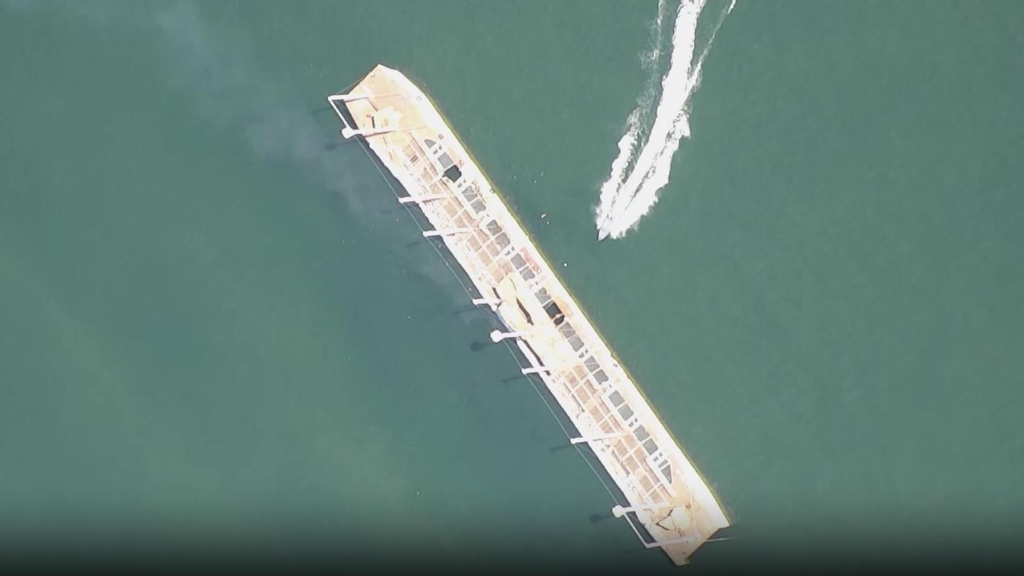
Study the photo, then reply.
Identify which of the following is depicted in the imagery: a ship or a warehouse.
ship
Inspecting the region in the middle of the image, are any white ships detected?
Yes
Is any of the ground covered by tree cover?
No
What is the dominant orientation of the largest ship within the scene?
diagonally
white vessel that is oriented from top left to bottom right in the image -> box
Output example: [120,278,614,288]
[328,64,736,565]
